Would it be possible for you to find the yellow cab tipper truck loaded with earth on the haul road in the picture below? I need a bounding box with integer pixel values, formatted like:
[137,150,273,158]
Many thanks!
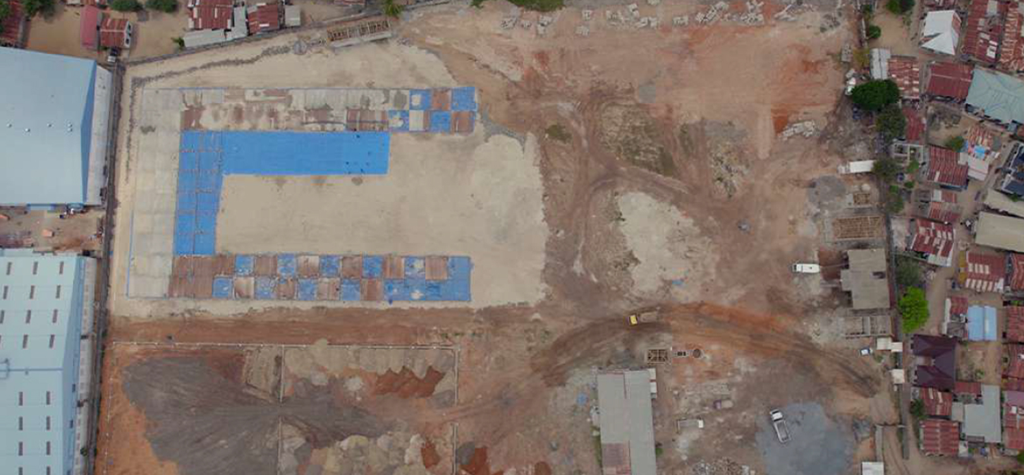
[629,311,662,328]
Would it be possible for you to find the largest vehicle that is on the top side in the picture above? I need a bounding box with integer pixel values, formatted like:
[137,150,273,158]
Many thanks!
[839,160,879,175]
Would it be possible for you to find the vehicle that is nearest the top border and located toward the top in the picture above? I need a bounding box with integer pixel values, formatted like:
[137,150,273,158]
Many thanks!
[103,47,118,61]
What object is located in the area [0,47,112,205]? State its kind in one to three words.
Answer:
warehouse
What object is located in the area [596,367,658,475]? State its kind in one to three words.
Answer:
shed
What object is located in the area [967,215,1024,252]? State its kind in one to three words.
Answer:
house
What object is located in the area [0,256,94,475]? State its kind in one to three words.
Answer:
building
